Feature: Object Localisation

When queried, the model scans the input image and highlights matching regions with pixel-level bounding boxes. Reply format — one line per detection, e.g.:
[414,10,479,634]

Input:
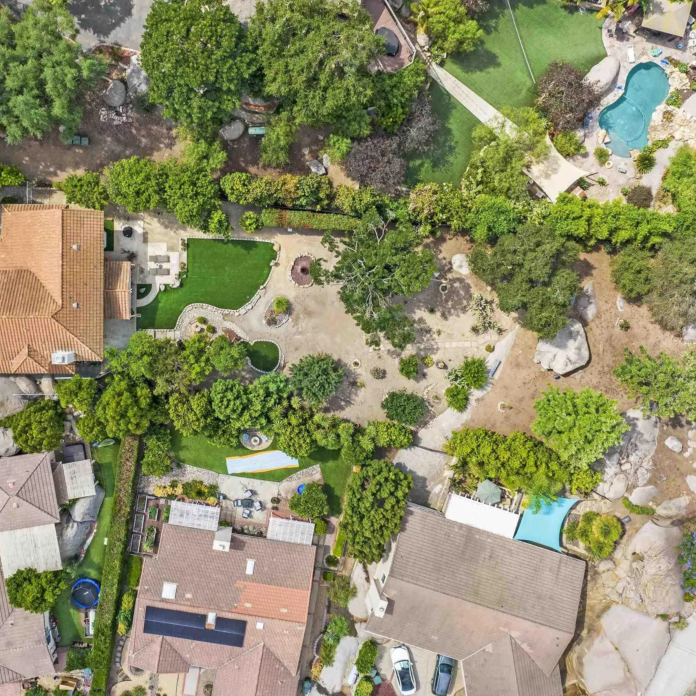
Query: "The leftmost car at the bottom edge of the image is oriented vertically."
[390,643,419,696]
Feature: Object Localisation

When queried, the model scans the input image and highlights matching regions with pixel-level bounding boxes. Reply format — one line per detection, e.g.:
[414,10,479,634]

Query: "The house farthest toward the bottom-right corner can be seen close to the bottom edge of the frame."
[364,502,585,696]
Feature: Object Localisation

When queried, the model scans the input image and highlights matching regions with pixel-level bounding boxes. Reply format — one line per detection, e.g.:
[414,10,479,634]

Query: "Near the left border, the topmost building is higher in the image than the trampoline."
[0,204,132,374]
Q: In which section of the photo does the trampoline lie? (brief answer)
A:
bottom left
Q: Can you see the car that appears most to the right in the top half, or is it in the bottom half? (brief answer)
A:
bottom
